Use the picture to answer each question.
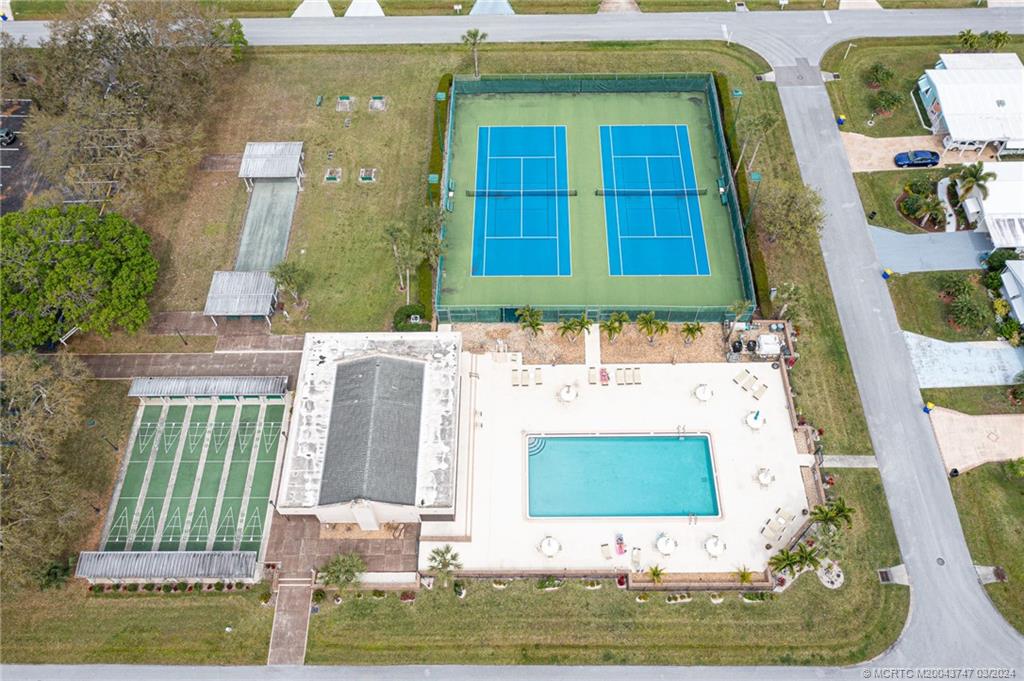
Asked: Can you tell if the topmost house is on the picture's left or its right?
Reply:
right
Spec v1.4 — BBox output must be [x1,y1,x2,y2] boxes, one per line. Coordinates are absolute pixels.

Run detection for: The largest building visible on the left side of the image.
[276,332,463,531]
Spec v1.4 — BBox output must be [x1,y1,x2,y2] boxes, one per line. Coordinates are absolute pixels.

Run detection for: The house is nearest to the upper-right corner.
[916,53,1024,156]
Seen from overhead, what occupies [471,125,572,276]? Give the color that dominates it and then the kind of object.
blue tennis court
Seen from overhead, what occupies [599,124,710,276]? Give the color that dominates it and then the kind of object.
blue tennis court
